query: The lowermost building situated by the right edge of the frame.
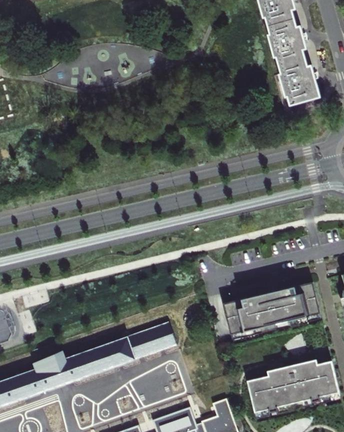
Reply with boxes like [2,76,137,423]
[248,359,340,418]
